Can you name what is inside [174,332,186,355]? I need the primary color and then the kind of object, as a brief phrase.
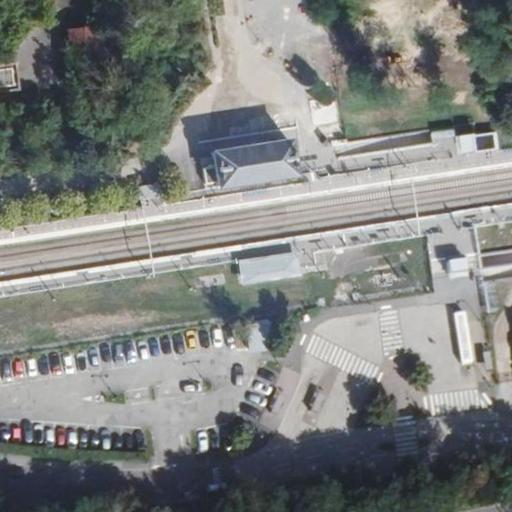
gray vehicle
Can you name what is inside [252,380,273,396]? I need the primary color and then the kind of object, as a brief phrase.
white car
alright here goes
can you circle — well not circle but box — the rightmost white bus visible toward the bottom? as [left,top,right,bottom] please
[455,310,476,368]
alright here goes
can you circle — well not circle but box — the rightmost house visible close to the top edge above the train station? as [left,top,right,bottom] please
[67,24,94,44]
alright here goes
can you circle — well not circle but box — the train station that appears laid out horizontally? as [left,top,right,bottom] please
[0,138,512,296]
